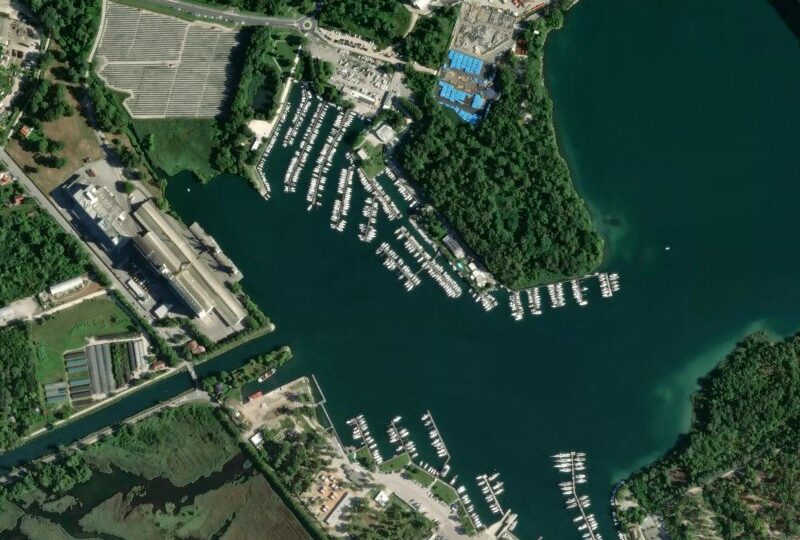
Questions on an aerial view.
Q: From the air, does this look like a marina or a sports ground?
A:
marina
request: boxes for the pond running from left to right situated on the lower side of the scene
[0,452,255,540]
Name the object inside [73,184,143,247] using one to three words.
building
